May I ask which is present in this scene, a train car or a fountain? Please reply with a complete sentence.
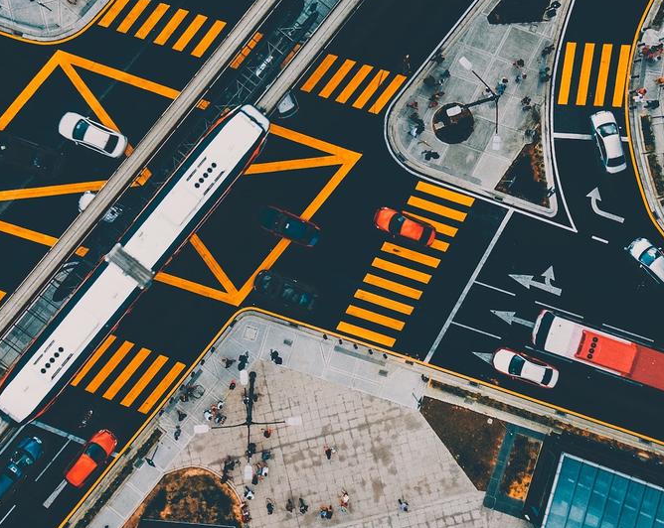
This aerial view contains a train car.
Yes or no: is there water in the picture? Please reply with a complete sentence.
No, no water is visible.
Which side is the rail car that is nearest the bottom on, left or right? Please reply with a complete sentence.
It is on the left.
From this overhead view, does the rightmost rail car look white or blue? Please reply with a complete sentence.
In this view, the rightmost rail car is white.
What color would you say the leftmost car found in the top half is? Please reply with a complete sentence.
The leftmost car found in the top half looks black in the image.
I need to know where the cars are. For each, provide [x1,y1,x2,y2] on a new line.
[0,129,60,175]
[253,267,318,309]
[59,112,130,158]
[255,203,324,248]
[490,346,557,388]
[585,111,626,173]
[276,92,300,118]
[625,236,664,289]
[65,425,117,487]
[374,207,437,246]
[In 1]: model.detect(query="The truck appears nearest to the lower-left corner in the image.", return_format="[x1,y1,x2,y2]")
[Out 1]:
[0,433,47,502]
